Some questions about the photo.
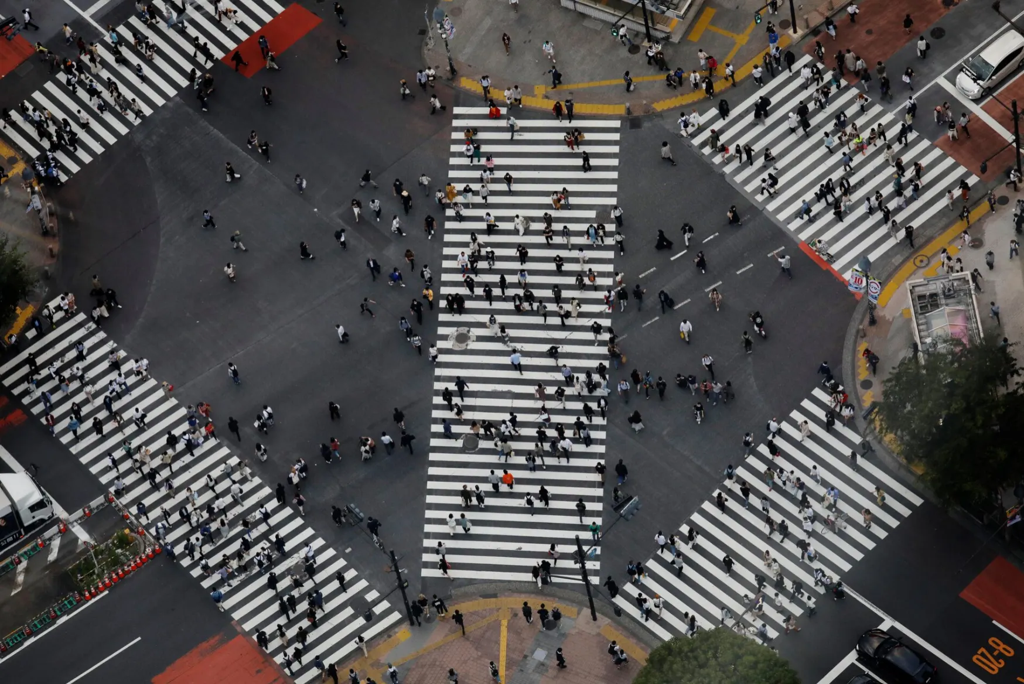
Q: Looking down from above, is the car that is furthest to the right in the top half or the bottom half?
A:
top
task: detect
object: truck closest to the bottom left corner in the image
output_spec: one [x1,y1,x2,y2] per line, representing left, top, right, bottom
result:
[0,465,53,548]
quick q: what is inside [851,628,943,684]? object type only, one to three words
car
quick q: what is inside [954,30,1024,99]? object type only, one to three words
car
